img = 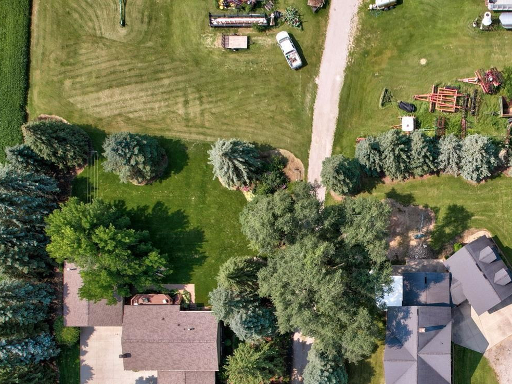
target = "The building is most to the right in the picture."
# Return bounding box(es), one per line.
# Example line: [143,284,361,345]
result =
[443,234,512,316]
